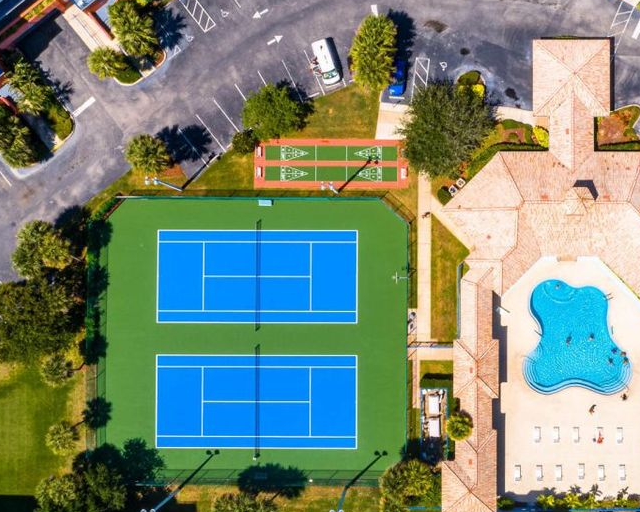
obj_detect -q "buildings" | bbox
[441,39,640,512]
[0,0,111,89]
